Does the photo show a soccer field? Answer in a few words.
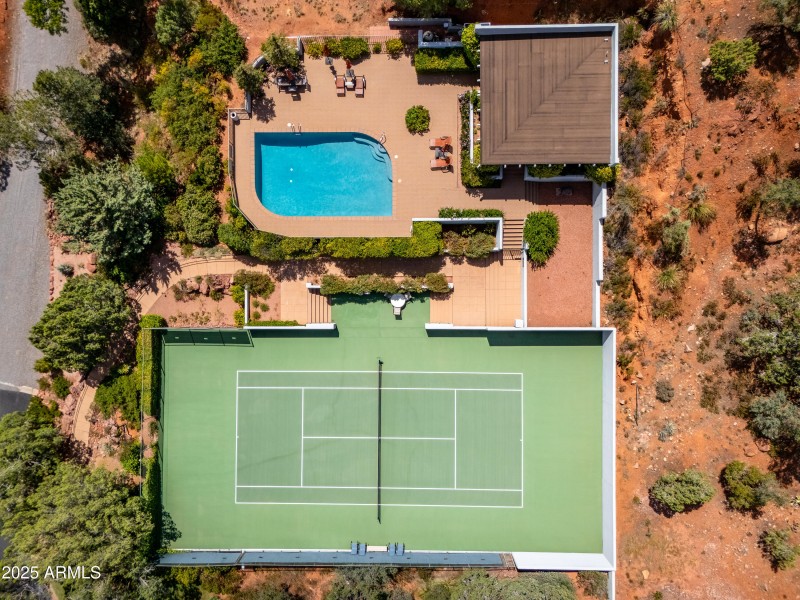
No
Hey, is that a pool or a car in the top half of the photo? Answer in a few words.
pool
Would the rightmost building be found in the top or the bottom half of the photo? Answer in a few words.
top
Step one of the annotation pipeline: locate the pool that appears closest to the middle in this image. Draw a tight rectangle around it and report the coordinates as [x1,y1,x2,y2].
[250,127,397,221]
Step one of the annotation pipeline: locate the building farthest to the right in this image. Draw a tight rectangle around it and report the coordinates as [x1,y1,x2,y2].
[470,24,620,177]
